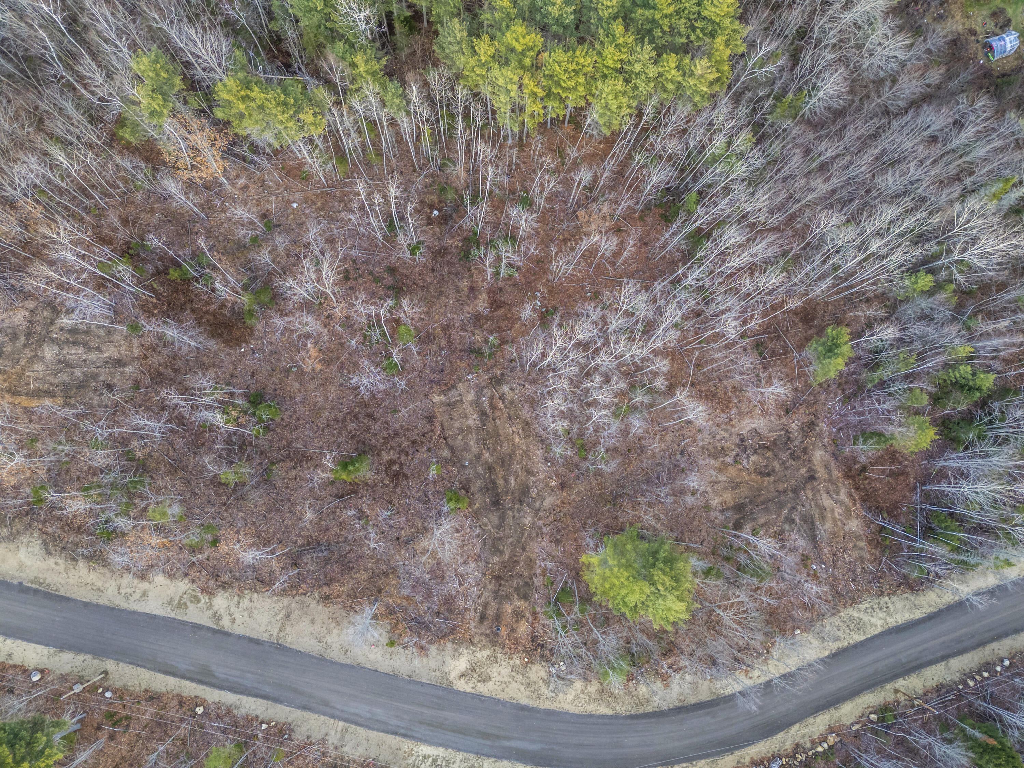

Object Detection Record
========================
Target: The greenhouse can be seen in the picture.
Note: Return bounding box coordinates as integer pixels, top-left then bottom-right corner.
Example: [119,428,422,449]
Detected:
[983,28,1024,61]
